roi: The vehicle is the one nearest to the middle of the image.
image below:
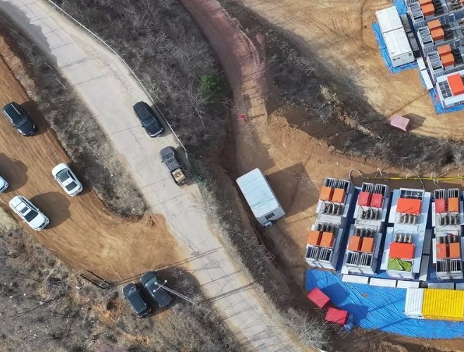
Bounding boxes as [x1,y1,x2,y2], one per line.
[155,143,196,193]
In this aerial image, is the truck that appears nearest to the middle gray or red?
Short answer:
gray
